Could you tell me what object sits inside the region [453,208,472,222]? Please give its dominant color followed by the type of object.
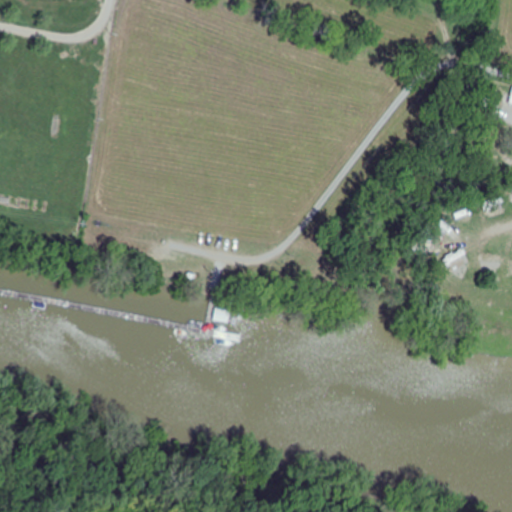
white vehicle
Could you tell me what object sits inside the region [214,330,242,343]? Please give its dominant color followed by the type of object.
white ship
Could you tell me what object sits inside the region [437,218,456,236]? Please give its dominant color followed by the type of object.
white vehicle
